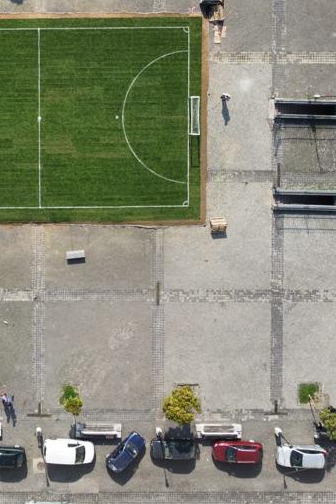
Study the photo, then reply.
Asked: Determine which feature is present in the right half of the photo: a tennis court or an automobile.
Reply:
automobile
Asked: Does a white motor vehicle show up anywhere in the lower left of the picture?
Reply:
Yes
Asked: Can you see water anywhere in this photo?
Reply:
No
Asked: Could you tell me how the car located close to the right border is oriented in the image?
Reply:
from left to right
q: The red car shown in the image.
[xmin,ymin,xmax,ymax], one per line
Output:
[211,437,263,464]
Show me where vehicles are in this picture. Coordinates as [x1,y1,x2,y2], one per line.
[147,433,197,460]
[0,442,26,469]
[211,437,263,464]
[43,436,93,466]
[103,428,146,475]
[273,441,328,469]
